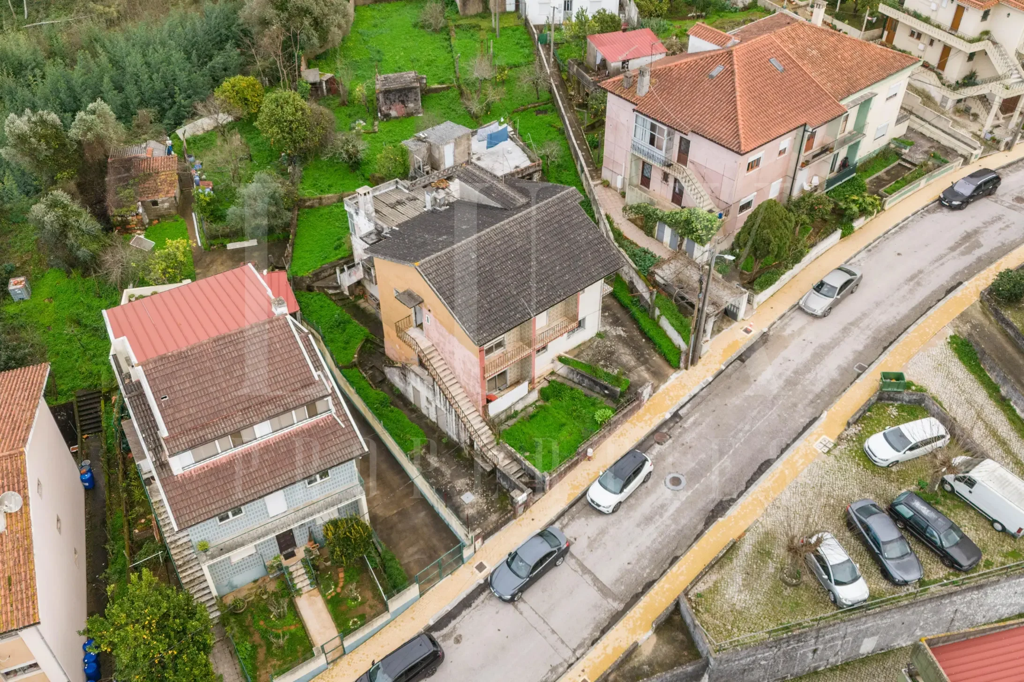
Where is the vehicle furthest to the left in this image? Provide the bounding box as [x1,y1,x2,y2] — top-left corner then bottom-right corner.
[360,632,445,682]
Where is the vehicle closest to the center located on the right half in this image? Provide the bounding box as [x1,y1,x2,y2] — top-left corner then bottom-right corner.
[587,450,654,517]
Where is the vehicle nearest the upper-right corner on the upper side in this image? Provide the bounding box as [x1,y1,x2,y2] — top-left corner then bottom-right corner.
[942,167,1005,210]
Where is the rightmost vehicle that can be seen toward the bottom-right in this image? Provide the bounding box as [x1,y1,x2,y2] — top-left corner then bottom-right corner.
[940,459,1024,545]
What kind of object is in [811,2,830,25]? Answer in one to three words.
chimney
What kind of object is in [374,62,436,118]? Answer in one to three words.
shed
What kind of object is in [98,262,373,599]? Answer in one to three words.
house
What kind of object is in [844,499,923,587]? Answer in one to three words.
car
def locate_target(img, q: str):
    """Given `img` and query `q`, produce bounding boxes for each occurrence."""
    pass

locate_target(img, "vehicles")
[942,167,1005,210]
[890,494,979,572]
[487,529,570,607]
[360,632,445,682]
[844,499,923,587]
[867,415,952,466]
[801,266,864,319]
[587,450,654,517]
[806,535,868,612]
[940,459,1024,545]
